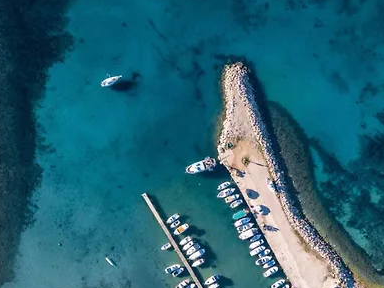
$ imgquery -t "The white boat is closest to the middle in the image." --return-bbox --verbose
[185,157,219,172]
